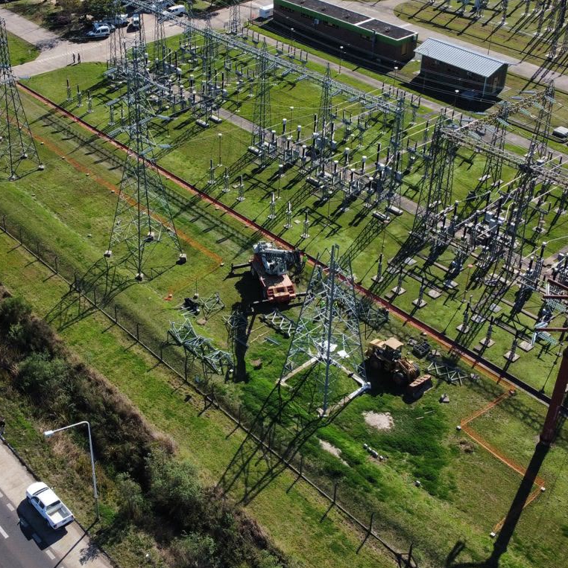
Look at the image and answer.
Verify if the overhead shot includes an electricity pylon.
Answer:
Yes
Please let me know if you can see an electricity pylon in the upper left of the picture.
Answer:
Yes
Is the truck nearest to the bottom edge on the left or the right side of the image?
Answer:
left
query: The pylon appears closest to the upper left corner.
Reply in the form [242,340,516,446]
[0,15,47,179]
